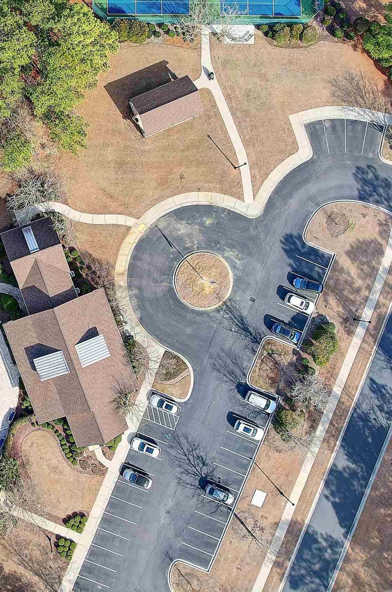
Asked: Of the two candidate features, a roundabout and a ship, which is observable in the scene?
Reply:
roundabout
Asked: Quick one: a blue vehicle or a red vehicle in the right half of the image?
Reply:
blue vehicle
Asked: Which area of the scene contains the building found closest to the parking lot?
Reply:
left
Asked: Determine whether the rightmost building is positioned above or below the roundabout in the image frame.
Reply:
above it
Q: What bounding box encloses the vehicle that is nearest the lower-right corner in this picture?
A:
[206,486,236,505]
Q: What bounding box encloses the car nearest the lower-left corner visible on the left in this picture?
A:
[124,470,154,490]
